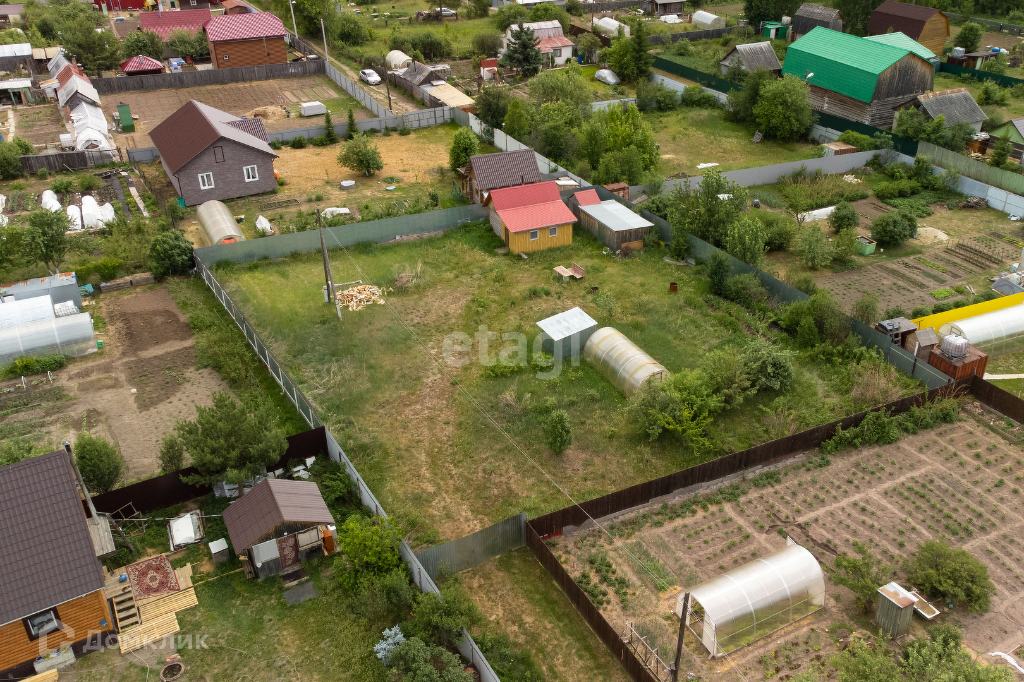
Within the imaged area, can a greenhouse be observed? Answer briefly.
Yes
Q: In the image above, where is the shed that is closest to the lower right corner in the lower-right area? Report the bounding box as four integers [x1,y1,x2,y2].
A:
[871,577,918,635]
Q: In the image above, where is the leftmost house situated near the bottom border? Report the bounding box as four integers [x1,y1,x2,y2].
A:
[0,440,111,676]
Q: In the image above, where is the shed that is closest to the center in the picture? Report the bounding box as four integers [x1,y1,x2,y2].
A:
[530,307,597,362]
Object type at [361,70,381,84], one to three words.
car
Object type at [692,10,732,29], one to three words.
greenhouse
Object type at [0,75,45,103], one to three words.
shed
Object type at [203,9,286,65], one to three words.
house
